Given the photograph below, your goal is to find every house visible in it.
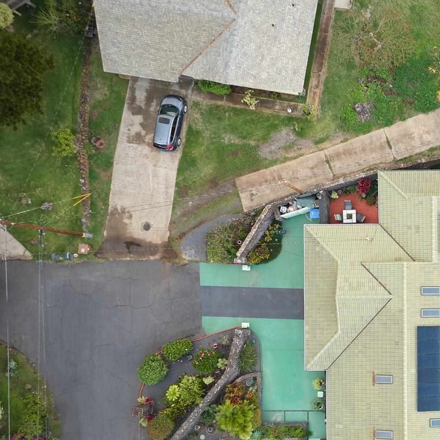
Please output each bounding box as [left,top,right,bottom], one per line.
[303,170,440,440]
[90,0,319,96]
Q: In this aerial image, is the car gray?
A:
Yes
